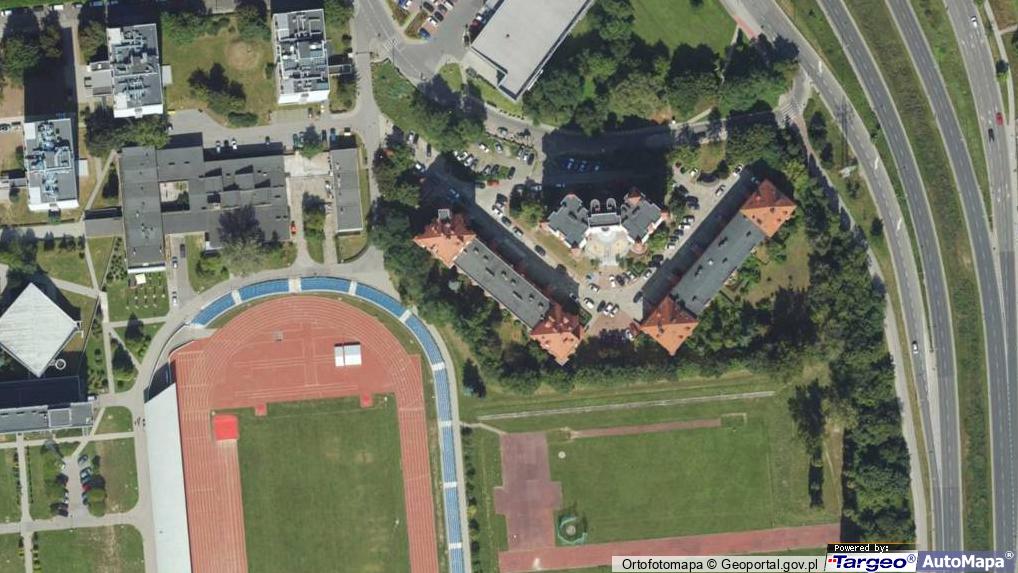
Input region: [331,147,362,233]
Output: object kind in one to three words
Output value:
building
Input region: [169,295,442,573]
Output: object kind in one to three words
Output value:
running track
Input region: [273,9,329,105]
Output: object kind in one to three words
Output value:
building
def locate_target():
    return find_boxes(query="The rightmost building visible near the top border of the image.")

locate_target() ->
[466,0,595,103]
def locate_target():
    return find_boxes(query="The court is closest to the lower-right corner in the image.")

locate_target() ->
[494,433,563,551]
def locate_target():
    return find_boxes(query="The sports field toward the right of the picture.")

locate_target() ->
[548,417,774,546]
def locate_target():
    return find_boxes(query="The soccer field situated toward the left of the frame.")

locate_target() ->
[211,393,409,573]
